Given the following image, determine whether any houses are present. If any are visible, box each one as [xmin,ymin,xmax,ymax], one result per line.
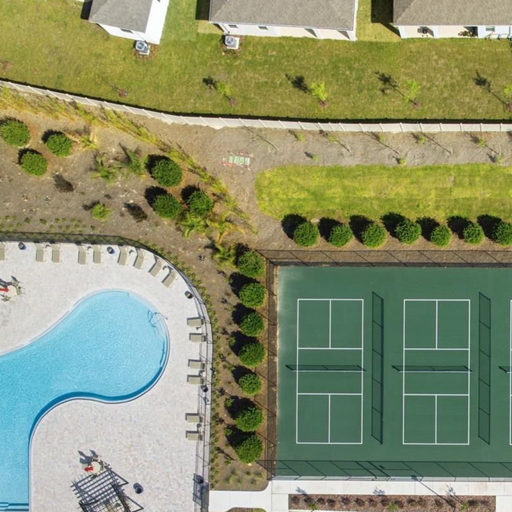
[392,0,512,38]
[81,0,168,44]
[207,0,358,40]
